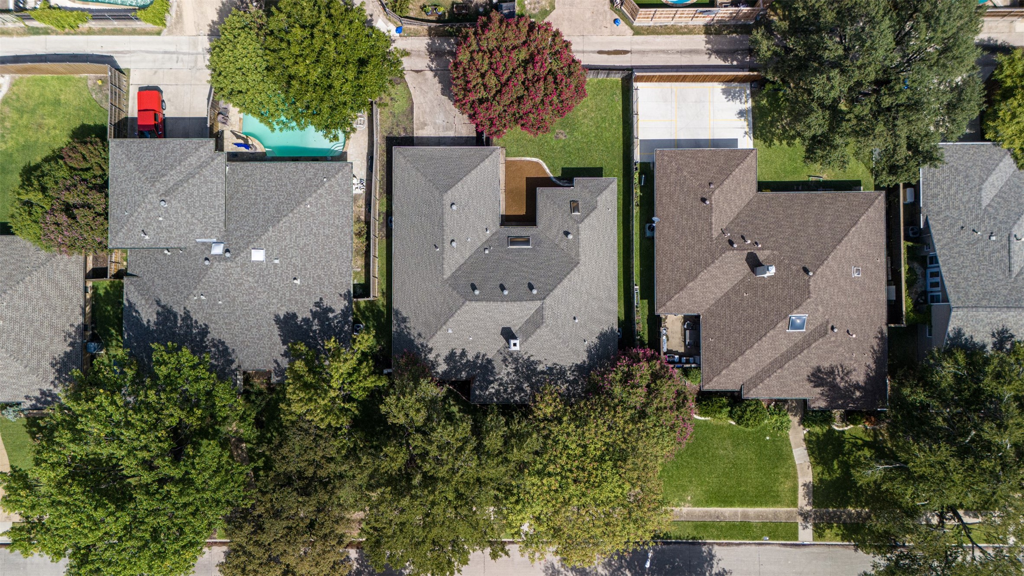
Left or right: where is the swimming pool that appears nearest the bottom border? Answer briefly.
left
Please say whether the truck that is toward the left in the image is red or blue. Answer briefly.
red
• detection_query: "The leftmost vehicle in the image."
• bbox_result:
[136,92,168,137]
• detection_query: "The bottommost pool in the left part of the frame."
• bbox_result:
[238,88,351,161]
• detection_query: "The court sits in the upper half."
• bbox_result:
[637,81,753,162]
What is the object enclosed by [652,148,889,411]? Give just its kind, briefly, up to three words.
house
